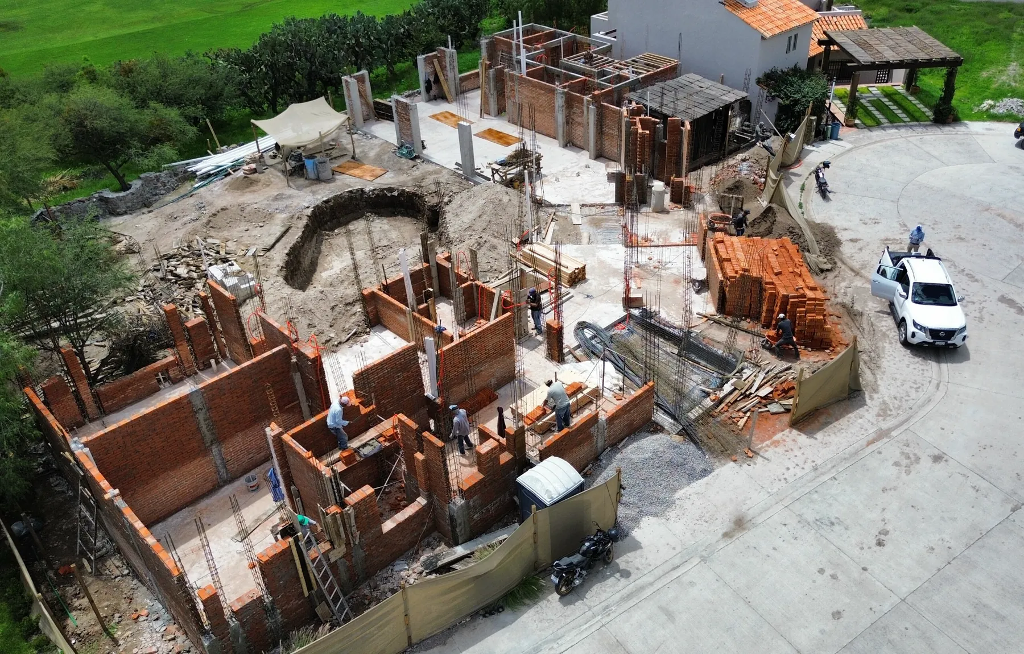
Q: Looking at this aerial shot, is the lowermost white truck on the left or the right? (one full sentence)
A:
The lowermost white truck appears in the right half of the scene.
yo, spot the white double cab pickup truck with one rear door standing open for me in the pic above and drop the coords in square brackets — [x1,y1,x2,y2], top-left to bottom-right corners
[864,247,976,352]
